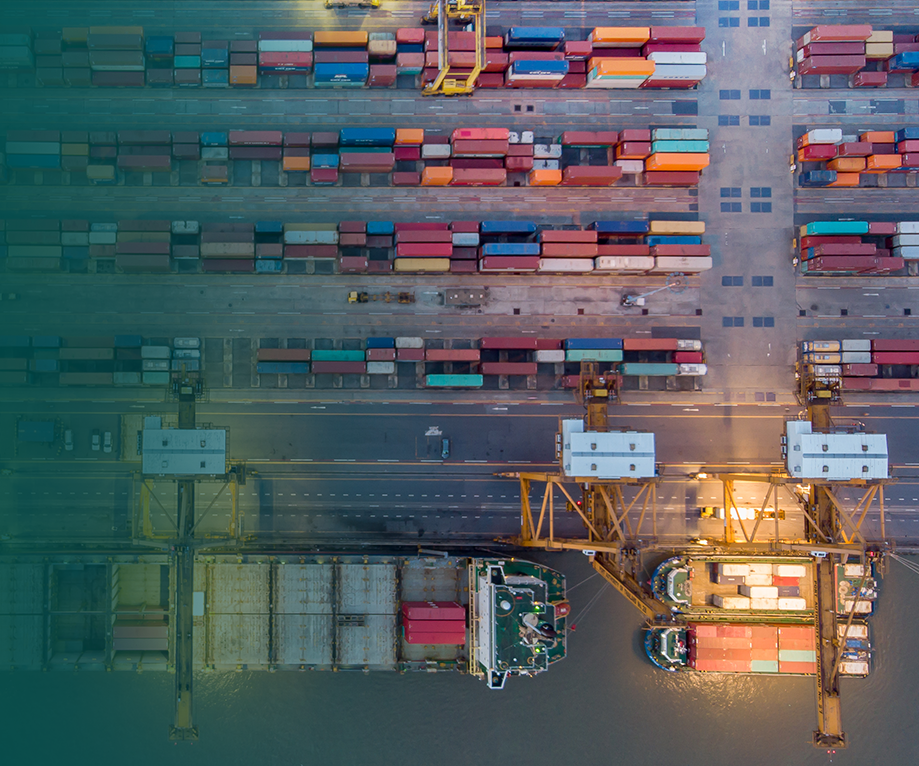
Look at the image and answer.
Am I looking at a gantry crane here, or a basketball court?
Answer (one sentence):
The one in the frame is a gantry crane.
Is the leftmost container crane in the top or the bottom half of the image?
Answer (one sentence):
Seen from above, the leftmost container crane lies in the bottom half of the view.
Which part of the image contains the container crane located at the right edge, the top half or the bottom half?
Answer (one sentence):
You can find the container crane located at the right edge in the bottom half.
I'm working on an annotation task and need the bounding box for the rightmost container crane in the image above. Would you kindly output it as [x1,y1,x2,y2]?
[683,344,895,753]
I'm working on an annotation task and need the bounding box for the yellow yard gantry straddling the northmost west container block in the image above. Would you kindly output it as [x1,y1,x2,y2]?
[422,0,490,95]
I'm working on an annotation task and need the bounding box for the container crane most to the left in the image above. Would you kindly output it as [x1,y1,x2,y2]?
[121,341,267,751]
